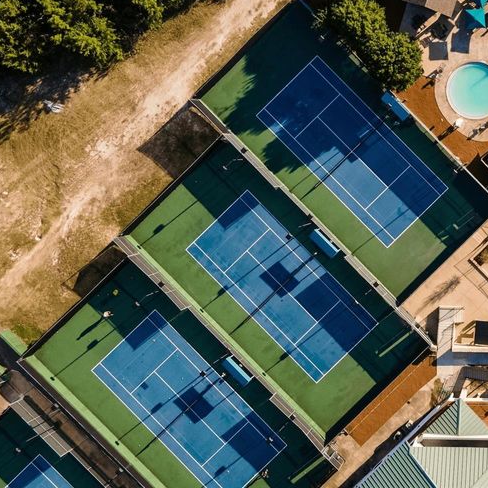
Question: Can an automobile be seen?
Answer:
No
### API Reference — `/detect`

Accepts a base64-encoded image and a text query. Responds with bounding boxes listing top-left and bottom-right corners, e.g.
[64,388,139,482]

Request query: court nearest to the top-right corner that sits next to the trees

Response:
[202,2,488,303]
